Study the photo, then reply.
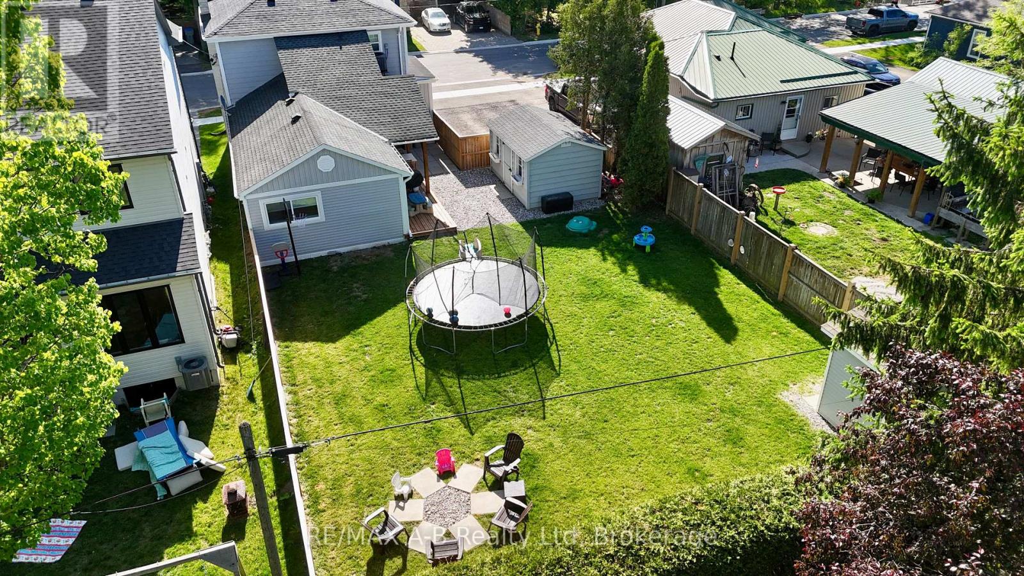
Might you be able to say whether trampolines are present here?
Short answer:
Yes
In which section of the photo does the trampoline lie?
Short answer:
center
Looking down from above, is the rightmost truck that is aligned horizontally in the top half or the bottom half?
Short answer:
top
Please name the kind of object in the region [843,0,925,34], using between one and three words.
truck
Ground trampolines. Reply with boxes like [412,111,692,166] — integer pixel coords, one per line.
[399,212,544,356]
